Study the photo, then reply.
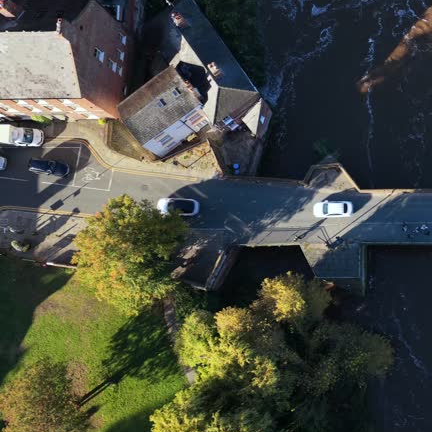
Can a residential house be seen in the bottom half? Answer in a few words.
No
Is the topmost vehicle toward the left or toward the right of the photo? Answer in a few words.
left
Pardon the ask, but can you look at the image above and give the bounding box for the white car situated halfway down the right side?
[314,199,353,218]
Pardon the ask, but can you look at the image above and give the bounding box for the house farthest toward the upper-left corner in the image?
[0,0,132,122]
